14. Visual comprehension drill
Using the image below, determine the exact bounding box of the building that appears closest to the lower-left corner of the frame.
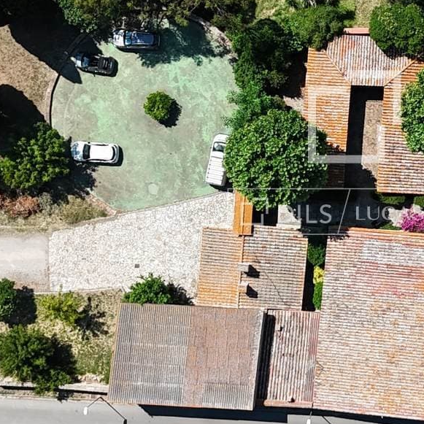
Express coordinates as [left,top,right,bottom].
[108,296,269,410]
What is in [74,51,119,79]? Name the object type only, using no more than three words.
car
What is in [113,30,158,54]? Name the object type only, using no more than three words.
car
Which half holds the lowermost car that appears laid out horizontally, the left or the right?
left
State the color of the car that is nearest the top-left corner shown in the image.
black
